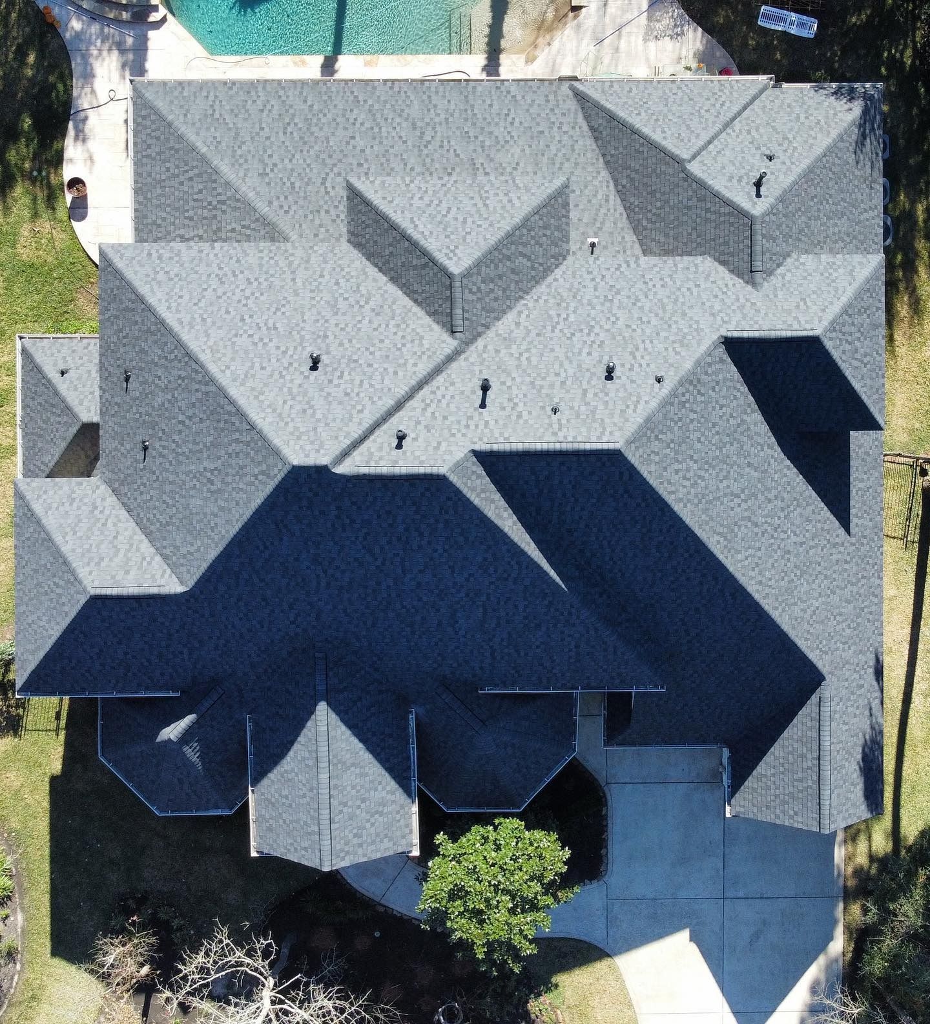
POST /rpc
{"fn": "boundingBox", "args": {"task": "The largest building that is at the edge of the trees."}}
[13,74,886,872]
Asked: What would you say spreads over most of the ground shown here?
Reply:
buildings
